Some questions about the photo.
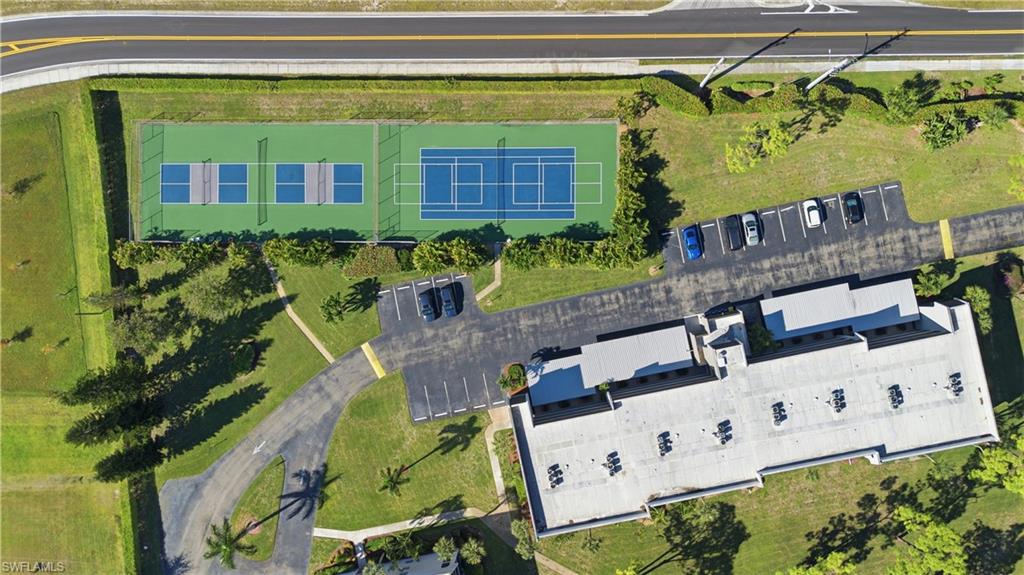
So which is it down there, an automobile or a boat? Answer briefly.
automobile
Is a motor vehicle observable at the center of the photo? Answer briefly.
Yes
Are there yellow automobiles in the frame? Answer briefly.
No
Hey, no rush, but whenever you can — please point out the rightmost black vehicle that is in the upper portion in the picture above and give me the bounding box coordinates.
[843,192,862,224]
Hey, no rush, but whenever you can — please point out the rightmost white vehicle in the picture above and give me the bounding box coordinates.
[803,199,821,229]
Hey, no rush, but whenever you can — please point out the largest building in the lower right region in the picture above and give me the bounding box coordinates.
[511,303,1002,540]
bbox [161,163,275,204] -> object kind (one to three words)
sports court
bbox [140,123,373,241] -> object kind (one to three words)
sports court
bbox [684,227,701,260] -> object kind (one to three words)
car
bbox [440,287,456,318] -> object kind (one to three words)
car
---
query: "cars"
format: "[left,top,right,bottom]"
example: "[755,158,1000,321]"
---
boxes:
[724,215,744,252]
[419,292,435,322]
[684,227,701,260]
[440,287,456,318]
[742,214,760,246]
[803,199,821,229]
[843,192,862,224]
